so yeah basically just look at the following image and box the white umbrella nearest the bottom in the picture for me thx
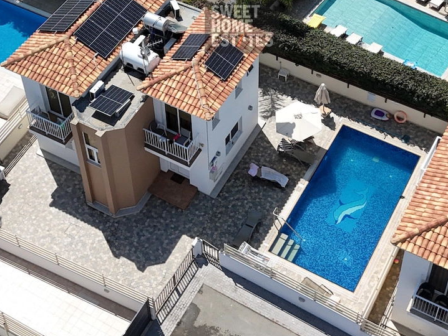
[271,106,331,149]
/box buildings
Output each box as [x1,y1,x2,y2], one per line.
[382,124,448,336]
[0,0,275,220]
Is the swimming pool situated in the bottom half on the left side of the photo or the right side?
right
